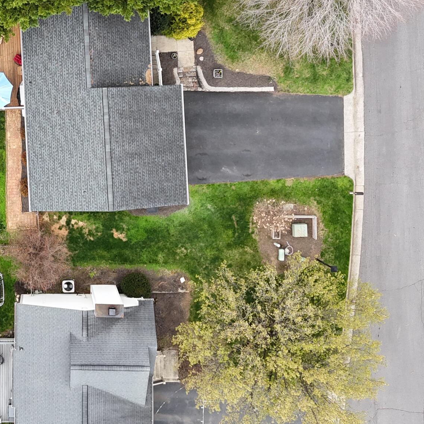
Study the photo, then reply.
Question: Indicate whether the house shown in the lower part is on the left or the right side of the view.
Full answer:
The house shown in the lower part appears in the left half of the scene.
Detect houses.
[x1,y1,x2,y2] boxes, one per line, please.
[18,0,190,213]
[10,283,157,424]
